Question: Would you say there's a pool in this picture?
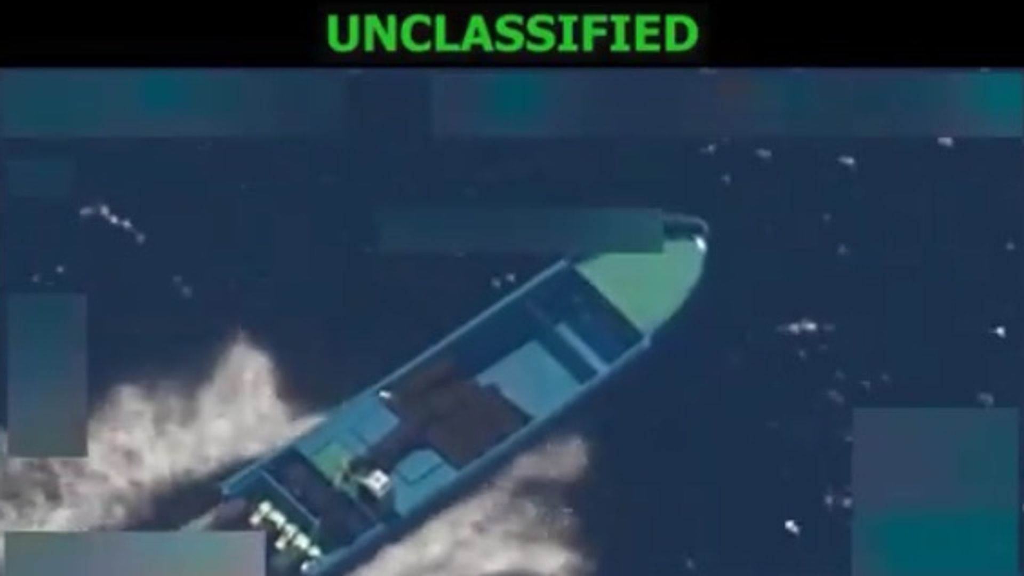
No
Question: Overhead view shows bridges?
No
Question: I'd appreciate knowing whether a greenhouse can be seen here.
No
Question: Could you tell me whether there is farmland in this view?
No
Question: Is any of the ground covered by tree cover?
No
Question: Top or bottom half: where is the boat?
bottom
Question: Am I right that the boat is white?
No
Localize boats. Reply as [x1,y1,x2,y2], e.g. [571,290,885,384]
[214,218,713,576]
